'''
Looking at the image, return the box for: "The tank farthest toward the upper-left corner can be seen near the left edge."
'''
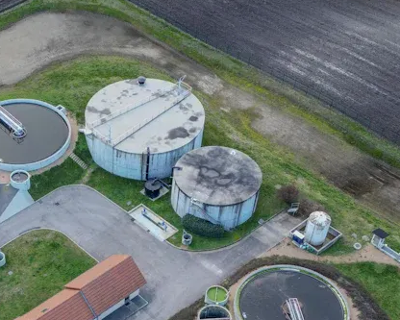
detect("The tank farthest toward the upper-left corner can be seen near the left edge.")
[0,99,71,171]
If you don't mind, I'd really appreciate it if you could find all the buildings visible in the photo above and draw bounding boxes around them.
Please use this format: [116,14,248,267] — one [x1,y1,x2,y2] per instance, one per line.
[12,255,150,320]
[372,230,390,250]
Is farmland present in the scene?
Yes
